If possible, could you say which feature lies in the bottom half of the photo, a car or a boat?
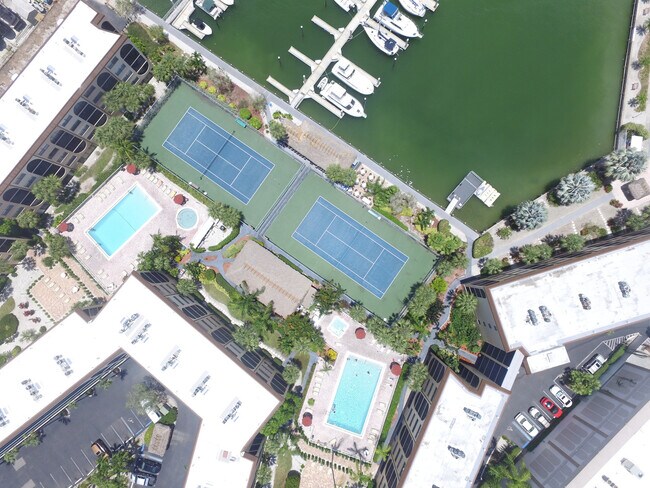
car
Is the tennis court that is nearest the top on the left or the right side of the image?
left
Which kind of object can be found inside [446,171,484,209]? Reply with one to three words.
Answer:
pier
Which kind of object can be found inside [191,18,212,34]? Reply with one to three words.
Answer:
boat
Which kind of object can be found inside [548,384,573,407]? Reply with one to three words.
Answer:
car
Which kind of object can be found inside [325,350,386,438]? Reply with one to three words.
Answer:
swimming pool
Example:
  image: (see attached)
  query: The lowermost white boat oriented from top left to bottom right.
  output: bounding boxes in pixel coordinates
[317,84,368,118]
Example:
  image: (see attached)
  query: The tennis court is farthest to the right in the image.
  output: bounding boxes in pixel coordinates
[265,170,436,324]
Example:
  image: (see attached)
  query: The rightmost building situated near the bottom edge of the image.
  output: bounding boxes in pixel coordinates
[501,334,650,488]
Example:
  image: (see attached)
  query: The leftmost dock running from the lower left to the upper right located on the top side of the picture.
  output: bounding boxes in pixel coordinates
[172,0,198,30]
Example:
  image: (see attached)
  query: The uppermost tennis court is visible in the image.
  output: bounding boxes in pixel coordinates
[136,83,303,229]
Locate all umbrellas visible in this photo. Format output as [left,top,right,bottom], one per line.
[126,163,138,175]
[354,327,366,339]
[59,221,72,233]
[175,194,186,205]
[301,412,313,425]
[389,362,402,374]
